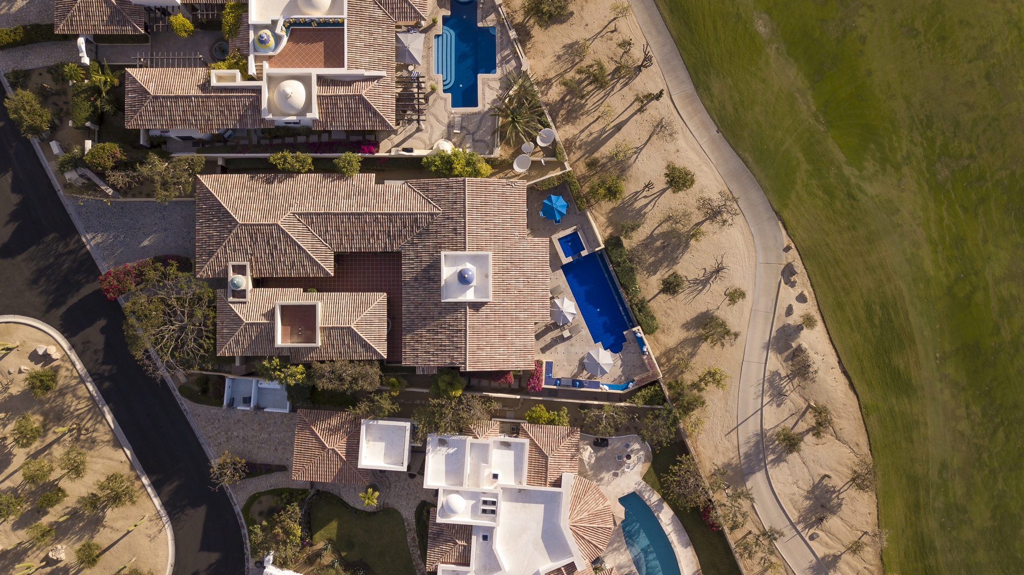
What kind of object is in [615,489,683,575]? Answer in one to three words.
swimming pool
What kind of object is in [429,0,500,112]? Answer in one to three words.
swimming pool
